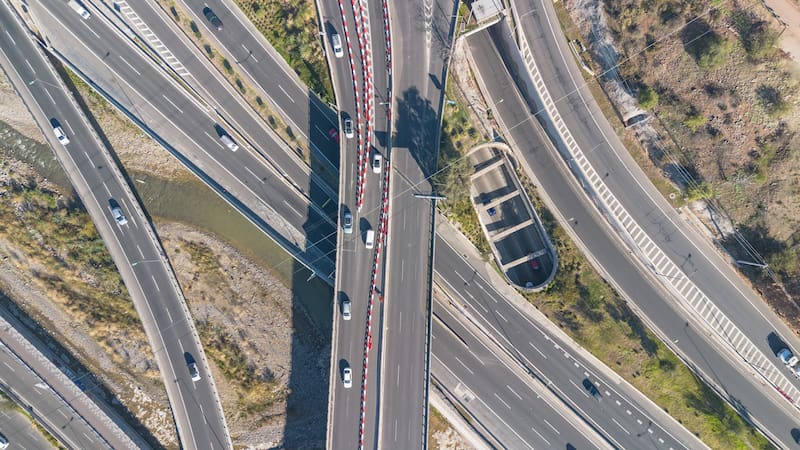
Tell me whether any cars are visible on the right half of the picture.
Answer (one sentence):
Yes, the scene does show a car on the right half of the picture.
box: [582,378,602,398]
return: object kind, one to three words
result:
car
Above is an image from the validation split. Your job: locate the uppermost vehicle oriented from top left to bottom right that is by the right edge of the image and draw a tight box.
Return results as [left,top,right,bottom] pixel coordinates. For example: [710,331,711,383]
[777,347,798,368]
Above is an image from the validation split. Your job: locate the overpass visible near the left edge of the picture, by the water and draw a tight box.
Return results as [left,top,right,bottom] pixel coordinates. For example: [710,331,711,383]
[0,0,236,450]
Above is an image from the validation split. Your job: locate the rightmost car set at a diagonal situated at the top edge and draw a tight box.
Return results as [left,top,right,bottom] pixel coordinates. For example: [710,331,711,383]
[204,8,222,29]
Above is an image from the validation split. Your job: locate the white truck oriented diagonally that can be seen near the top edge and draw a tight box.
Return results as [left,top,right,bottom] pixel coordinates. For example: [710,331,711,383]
[63,0,95,23]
